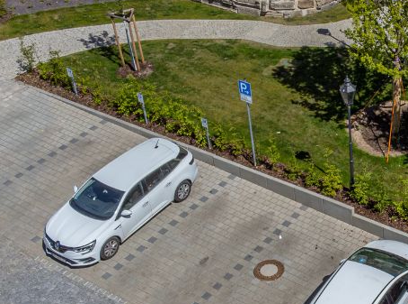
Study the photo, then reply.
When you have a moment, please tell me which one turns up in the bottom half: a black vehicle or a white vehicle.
white vehicle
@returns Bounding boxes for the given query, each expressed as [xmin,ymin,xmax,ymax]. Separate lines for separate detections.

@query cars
[40,142,198,267]
[311,238,408,304]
